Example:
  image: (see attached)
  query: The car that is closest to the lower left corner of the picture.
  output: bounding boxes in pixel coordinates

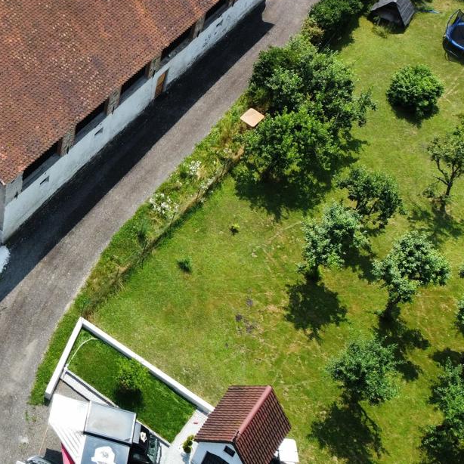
[0,439,50,464]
